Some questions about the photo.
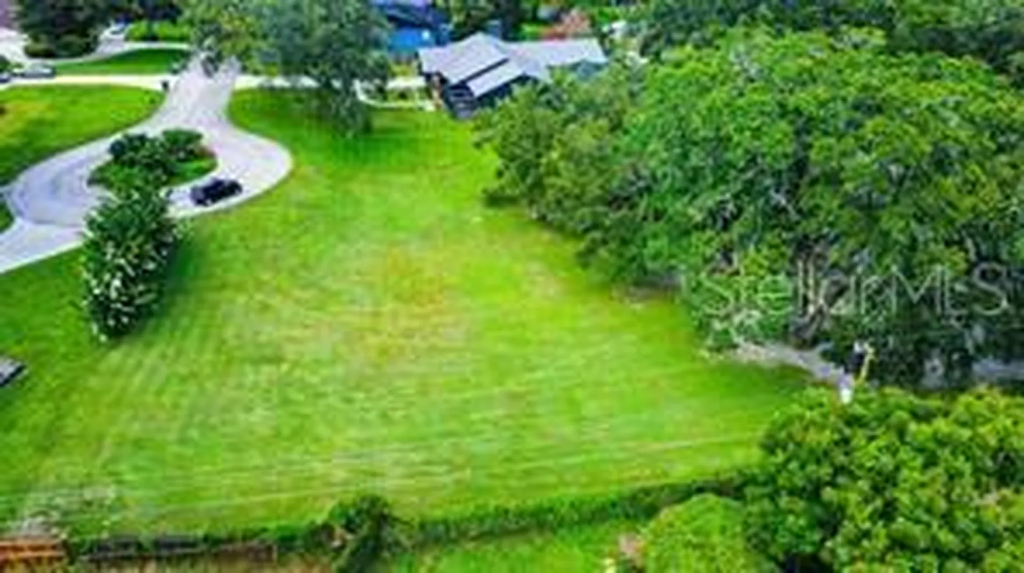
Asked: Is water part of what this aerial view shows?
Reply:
No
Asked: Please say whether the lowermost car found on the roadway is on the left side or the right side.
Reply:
left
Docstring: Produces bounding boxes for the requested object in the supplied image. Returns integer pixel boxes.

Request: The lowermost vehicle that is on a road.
[188,174,244,204]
